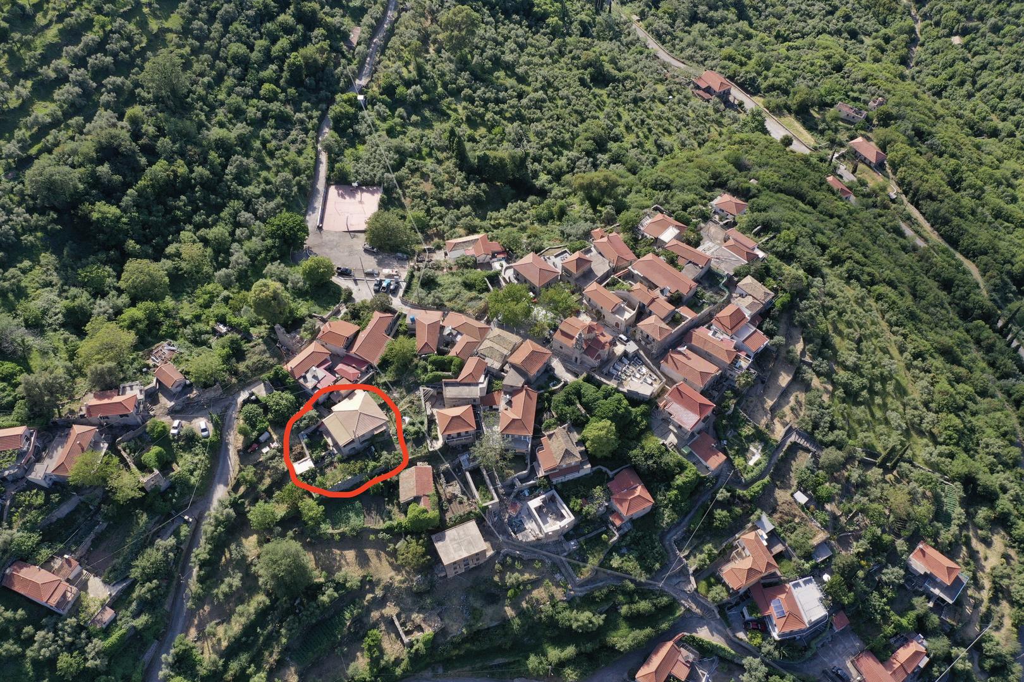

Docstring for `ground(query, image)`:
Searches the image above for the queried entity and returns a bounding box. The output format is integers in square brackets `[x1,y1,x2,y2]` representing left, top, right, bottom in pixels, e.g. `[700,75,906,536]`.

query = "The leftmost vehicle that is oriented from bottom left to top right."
[169,419,182,434]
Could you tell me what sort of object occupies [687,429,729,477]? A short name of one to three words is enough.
shed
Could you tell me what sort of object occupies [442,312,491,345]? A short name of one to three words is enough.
house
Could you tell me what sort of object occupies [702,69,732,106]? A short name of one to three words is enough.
house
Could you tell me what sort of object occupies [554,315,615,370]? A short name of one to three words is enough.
building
